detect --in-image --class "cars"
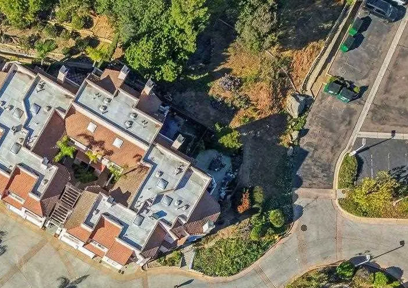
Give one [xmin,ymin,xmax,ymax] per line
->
[388,0,408,13]
[364,0,401,24]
